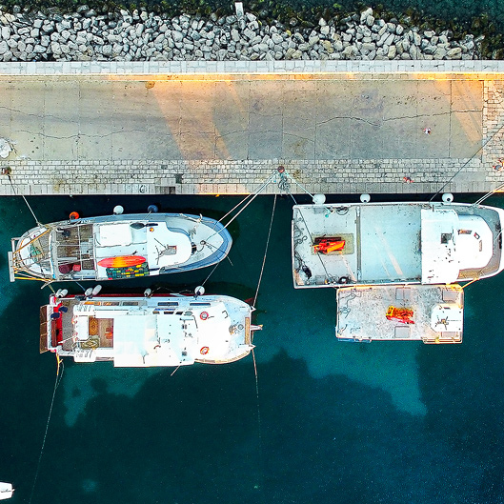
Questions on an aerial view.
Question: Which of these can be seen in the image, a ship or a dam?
ship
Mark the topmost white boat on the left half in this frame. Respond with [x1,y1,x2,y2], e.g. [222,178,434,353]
[8,213,232,282]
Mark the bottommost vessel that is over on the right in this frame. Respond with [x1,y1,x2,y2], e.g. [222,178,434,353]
[336,283,463,344]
